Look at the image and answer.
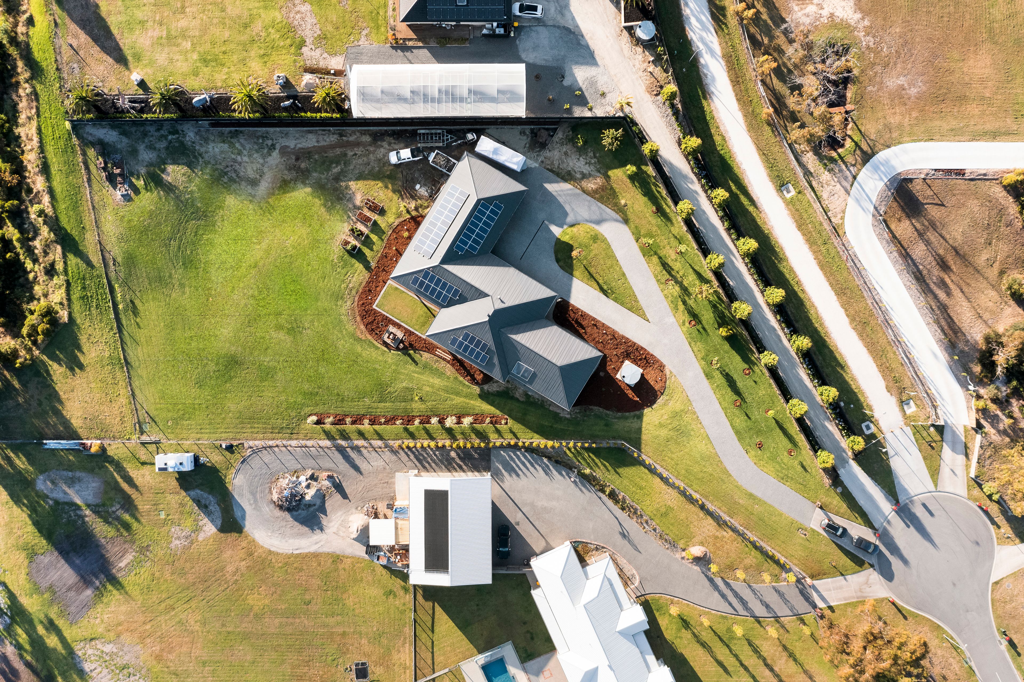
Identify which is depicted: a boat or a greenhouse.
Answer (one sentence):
There is a greenhouse in the scene.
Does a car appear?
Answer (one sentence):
Yes, the frame does contain a car.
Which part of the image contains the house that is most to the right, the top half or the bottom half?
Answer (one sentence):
It is in the bottom half that the house that is most to the right appears.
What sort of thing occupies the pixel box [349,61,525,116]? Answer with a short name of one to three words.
greenhouse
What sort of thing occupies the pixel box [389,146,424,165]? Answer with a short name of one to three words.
vehicle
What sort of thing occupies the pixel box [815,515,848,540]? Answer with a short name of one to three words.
car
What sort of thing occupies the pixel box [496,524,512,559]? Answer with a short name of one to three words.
vehicle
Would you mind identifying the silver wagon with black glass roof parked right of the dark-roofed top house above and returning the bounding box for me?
[513,1,544,19]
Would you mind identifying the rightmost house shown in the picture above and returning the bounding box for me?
[530,539,677,682]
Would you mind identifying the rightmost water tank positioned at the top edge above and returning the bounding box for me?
[631,20,656,47]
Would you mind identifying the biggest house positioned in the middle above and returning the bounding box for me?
[390,151,604,411]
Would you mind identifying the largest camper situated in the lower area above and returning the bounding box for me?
[156,452,210,470]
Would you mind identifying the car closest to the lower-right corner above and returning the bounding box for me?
[848,533,880,556]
